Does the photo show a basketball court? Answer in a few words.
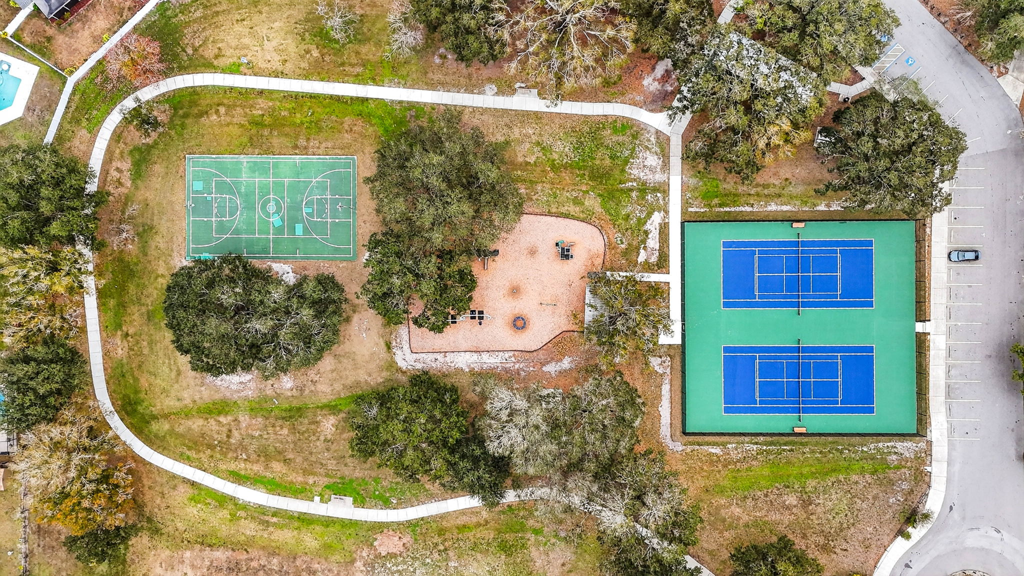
Yes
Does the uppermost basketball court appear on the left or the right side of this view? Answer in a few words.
left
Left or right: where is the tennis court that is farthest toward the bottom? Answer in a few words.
right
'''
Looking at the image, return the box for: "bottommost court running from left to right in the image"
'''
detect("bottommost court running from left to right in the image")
[685,327,918,434]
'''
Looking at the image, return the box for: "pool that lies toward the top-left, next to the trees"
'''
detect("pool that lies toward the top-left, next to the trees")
[0,53,40,125]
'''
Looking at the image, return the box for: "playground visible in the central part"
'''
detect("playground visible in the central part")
[407,214,606,353]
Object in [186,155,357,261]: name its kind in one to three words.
basketball court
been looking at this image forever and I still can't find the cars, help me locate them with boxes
[949,249,980,263]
